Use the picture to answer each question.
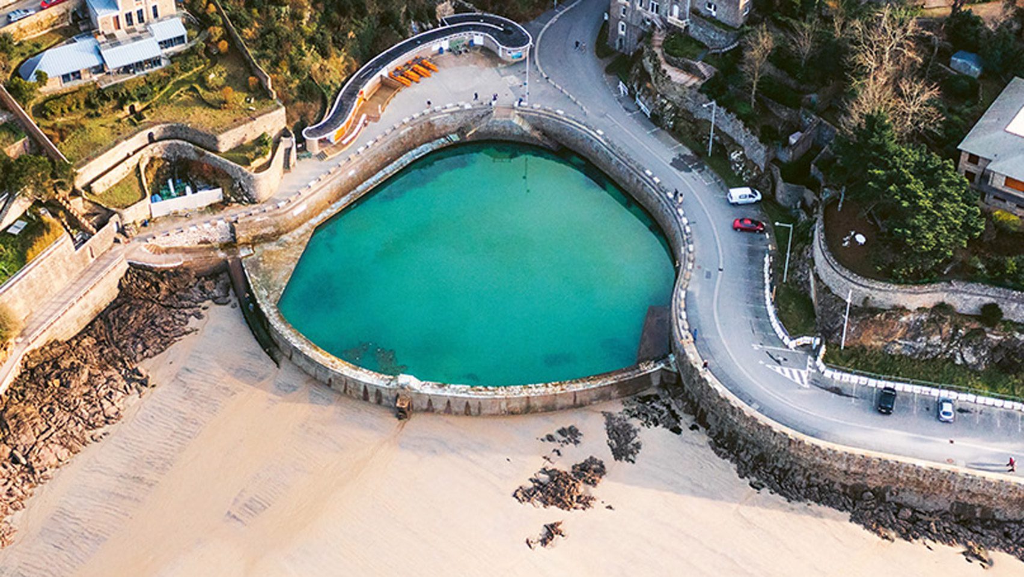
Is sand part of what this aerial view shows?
Yes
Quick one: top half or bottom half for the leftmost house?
top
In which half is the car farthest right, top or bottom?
bottom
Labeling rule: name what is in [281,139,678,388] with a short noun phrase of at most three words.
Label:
swimming pool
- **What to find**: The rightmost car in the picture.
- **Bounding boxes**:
[935,396,959,424]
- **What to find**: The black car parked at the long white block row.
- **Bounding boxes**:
[876,387,898,413]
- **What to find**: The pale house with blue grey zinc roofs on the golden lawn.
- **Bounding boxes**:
[18,0,188,97]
